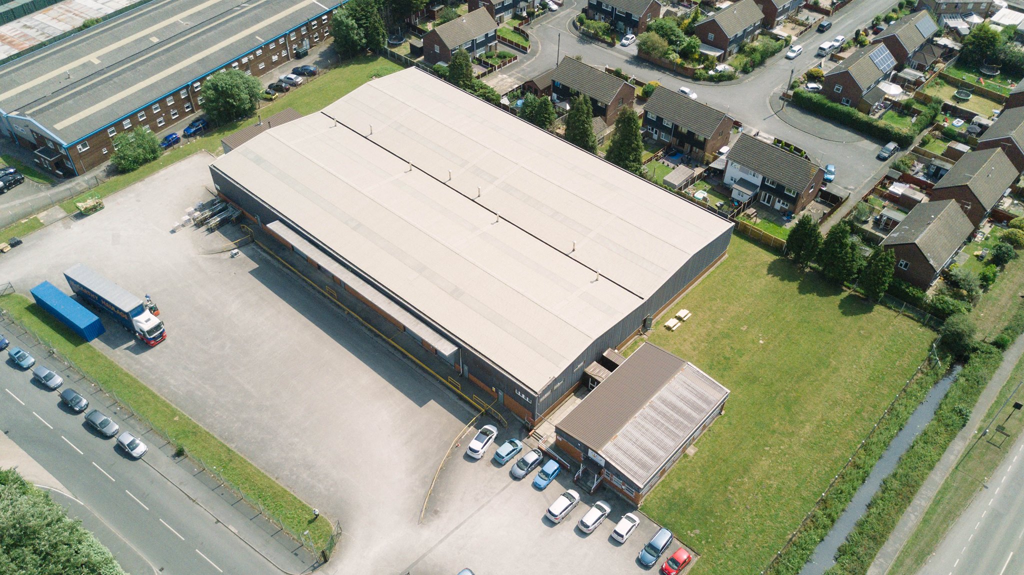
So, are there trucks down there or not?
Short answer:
Yes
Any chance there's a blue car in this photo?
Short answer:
Yes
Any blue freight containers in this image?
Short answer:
Yes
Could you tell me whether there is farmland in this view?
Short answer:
No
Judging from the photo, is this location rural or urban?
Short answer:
urban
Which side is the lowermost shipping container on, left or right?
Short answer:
left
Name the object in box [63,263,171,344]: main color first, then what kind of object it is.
white truck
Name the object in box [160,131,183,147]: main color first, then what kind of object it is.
blue car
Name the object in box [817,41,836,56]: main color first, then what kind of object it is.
gray vehicle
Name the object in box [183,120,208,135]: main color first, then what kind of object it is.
blue car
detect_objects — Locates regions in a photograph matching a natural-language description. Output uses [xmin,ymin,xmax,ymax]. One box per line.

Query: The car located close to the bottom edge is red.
[662,545,694,575]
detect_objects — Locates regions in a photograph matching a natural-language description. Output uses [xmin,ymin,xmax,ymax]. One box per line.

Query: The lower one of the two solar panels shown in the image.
[865,45,893,71]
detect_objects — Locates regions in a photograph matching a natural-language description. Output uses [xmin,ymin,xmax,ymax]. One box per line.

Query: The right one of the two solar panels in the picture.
[912,12,936,37]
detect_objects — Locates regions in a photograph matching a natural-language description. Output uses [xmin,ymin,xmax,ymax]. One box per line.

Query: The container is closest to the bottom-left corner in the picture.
[30,281,106,342]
